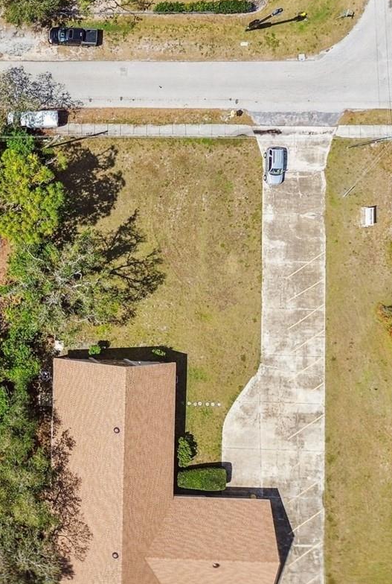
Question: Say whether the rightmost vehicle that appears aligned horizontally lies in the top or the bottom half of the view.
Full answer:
The top half of the photo is where the rightmost vehicle that appears aligned horizontally is.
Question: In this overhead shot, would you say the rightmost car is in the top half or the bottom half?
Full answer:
The rightmost car is in the top half of the image.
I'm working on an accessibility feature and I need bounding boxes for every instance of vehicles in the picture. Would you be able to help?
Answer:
[49,26,98,45]
[264,147,285,185]
[7,109,59,128]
